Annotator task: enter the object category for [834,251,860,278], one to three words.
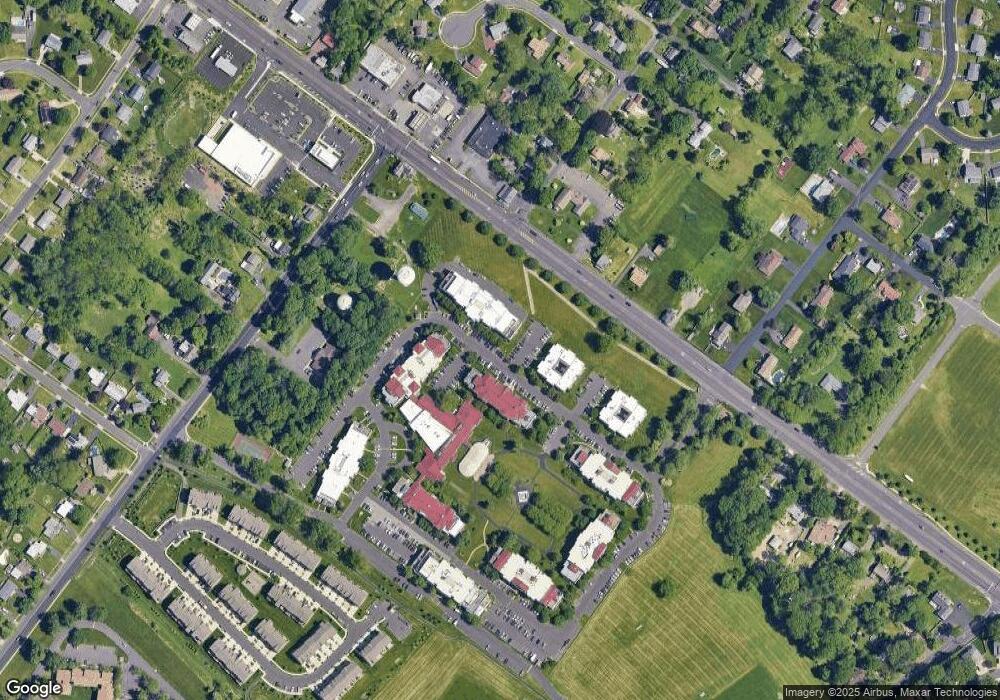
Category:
house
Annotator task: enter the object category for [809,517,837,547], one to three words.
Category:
house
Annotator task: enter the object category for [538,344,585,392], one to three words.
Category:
building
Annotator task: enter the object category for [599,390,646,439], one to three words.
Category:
building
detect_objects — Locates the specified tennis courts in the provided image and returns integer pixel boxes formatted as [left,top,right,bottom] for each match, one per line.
[231,432,271,463]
